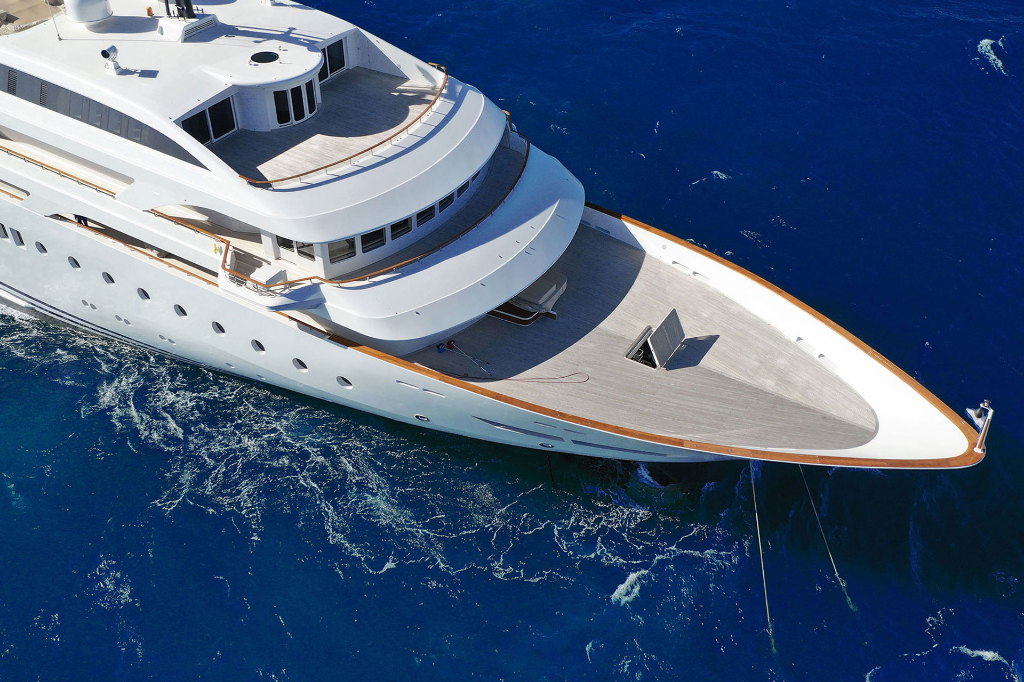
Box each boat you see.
[0,0,994,474]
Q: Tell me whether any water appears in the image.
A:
Yes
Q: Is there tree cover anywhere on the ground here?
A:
No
